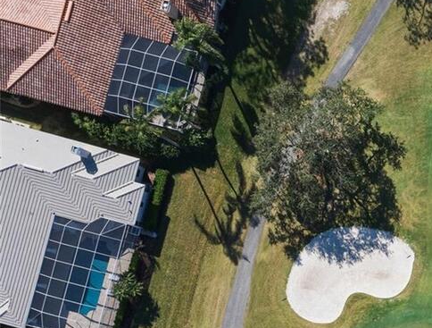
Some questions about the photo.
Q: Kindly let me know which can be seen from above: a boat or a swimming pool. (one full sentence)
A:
Looking from above, you can make out a swimming pool.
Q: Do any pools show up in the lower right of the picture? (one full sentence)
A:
No, looking in the lower right of the picture, there is no pool.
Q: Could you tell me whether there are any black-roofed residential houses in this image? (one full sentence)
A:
No, I can't see a single black-roofed residential house in this photo.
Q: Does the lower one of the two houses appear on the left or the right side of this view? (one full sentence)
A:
The lower one of the two houses appears in the left half of the scene.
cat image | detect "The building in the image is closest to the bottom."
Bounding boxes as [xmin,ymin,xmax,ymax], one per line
[0,120,151,328]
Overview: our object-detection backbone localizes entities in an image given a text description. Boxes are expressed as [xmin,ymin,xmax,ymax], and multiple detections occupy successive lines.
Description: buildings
[0,120,151,328]
[0,0,237,117]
